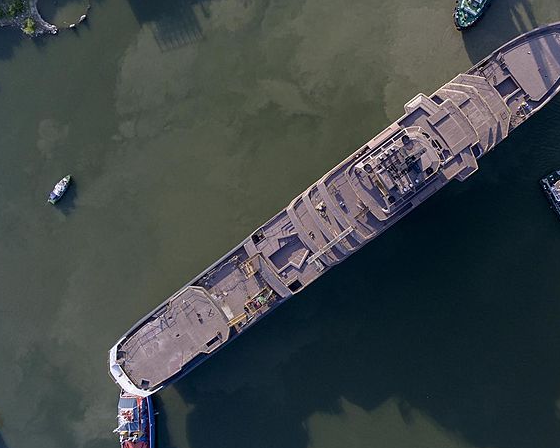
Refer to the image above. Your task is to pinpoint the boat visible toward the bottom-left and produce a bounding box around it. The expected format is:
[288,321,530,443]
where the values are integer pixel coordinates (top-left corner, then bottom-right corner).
[113,389,158,448]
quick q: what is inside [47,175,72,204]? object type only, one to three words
boat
